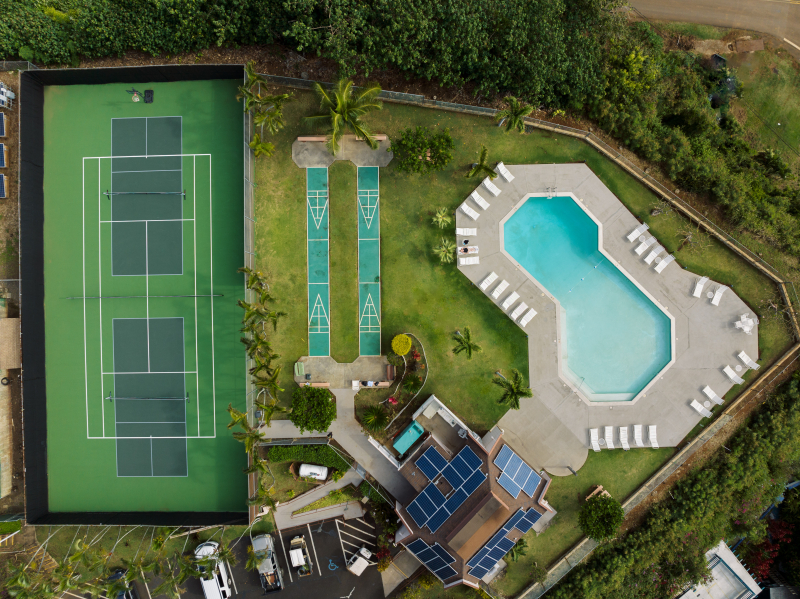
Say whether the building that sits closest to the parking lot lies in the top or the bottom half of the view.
bottom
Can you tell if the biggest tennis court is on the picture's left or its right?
left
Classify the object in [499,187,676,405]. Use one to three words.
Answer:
swimming pool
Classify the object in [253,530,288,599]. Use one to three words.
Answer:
truck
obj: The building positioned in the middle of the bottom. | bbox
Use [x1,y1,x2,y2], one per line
[394,423,555,592]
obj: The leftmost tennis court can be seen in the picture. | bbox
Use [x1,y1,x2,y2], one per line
[44,80,251,512]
